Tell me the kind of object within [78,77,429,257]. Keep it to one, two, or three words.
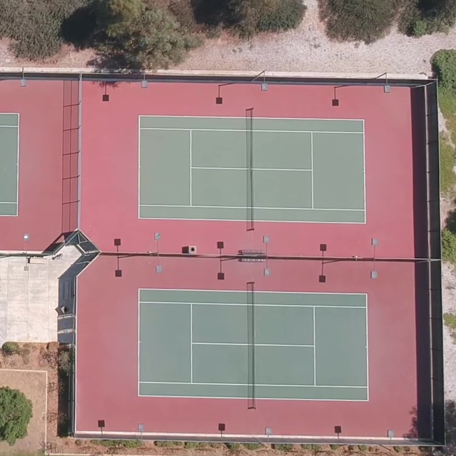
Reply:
tennis court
